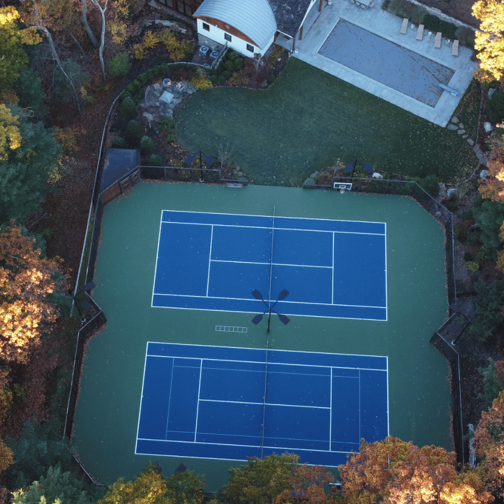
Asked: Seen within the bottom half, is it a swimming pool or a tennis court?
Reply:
tennis court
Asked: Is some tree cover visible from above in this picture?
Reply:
Yes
